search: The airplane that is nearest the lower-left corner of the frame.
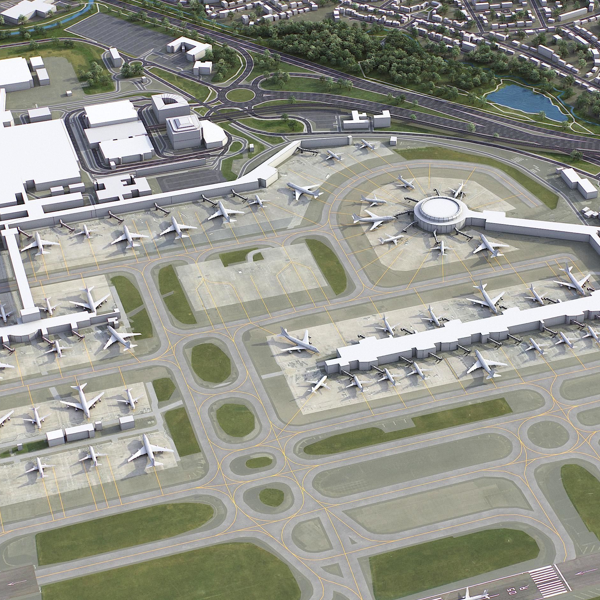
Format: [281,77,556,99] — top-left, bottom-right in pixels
[25,457,56,479]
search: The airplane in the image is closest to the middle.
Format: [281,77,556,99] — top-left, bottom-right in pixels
[277,327,319,352]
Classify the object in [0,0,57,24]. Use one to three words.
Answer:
building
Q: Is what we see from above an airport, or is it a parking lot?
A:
airport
